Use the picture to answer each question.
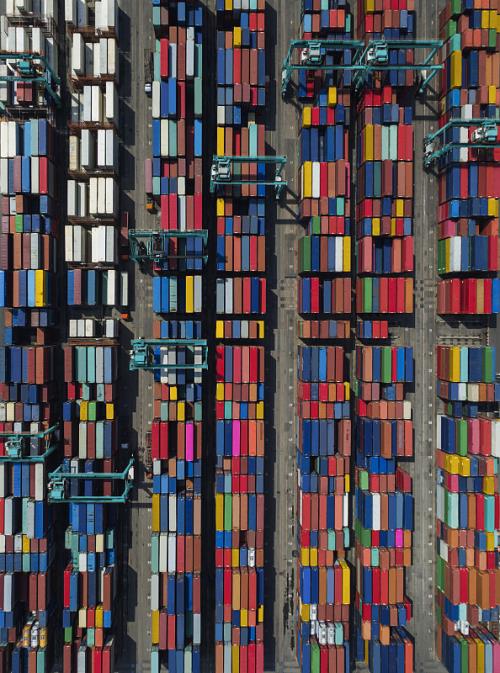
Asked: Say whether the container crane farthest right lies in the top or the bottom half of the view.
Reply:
top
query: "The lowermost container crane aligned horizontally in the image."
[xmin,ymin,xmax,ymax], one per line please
[43,455,139,500]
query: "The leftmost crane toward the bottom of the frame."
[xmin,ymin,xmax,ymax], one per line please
[0,419,64,461]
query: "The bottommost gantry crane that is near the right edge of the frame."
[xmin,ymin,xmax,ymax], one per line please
[422,120,500,170]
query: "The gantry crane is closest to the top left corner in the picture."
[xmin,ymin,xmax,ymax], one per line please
[0,53,64,108]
